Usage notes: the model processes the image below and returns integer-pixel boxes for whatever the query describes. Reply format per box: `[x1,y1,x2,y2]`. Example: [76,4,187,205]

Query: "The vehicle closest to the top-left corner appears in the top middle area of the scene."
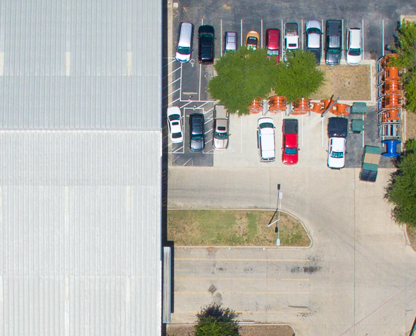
[174,23,193,64]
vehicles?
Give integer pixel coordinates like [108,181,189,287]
[222,32,237,67]
[197,26,215,66]
[303,22,324,63]
[166,107,183,145]
[174,23,193,64]
[280,118,300,166]
[256,118,276,164]
[344,27,362,67]
[188,113,205,153]
[264,28,283,69]
[324,19,343,67]
[326,115,348,172]
[212,105,230,151]
[283,23,301,60]
[245,31,259,55]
